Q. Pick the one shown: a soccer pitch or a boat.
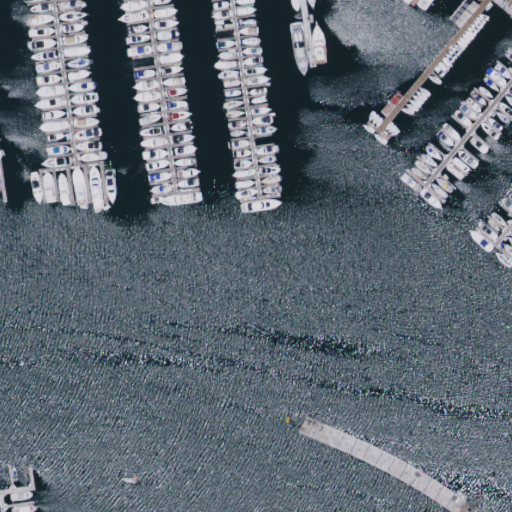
boat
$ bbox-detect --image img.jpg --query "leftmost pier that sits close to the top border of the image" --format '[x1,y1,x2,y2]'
[30,0,108,204]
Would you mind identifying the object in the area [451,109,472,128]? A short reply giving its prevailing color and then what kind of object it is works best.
white boat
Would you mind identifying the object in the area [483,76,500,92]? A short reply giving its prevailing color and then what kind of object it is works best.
white boat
